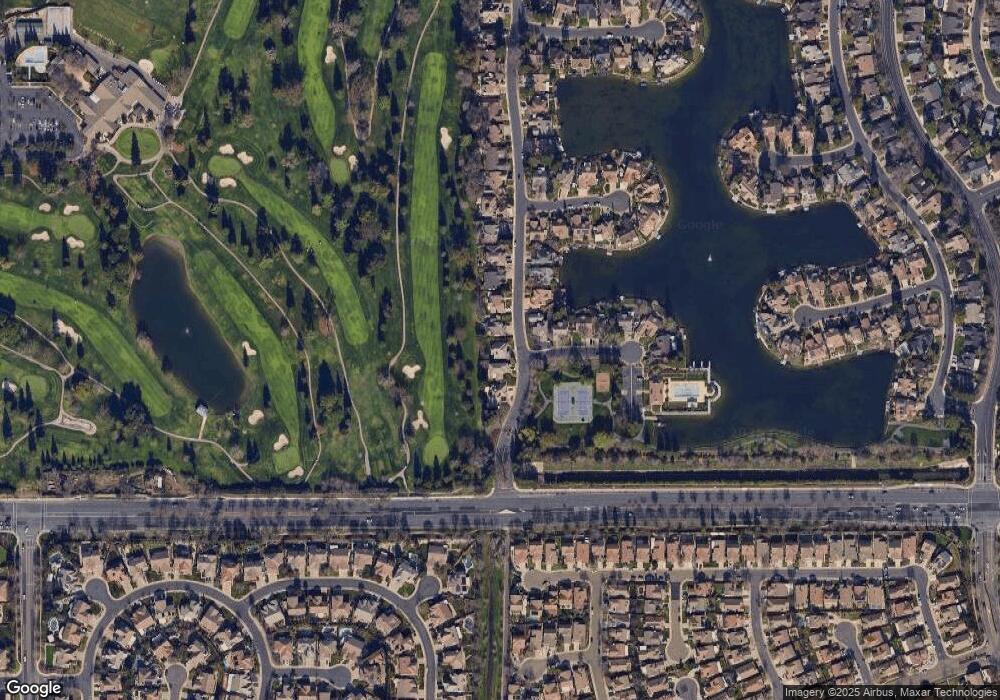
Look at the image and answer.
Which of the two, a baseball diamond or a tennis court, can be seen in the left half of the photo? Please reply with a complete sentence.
Visible in the left half of the photo is a tennis court.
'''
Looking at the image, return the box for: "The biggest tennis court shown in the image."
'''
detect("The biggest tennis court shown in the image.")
[553,381,593,424]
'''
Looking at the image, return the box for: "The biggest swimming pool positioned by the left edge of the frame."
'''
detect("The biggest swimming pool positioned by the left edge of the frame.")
[16,46,48,72]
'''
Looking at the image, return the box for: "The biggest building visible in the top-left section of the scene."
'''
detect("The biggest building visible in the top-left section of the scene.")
[70,64,173,143]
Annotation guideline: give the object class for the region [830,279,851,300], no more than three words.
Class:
house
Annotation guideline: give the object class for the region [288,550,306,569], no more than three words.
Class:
house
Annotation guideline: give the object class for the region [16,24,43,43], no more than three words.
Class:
tennis court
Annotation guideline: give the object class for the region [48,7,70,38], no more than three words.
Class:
tennis court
